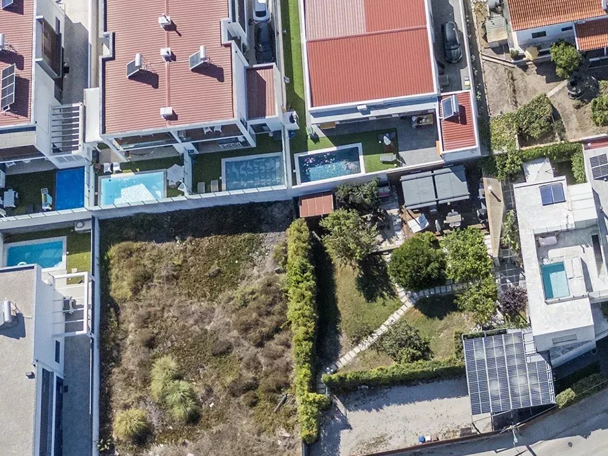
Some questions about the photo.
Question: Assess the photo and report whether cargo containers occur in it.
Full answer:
No, this view has no cargo container in it.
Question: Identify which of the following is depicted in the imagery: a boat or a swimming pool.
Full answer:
This aerial view contains a swimming pool.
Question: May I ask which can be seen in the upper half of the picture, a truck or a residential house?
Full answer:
The feature located in the upper half of the picture is a residential house.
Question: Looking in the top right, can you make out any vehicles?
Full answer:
Yes, there is a vehicle in the top right.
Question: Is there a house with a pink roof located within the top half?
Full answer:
Yes, a house with a pink roof shows up within the top half.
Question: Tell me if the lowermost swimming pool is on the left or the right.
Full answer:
You can find the lowermost swimming pool on the right side of the picture.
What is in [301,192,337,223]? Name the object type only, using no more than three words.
shed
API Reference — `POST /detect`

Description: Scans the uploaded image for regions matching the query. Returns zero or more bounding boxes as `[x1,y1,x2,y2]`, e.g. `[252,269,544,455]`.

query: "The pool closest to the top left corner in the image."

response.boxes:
[54,169,86,211]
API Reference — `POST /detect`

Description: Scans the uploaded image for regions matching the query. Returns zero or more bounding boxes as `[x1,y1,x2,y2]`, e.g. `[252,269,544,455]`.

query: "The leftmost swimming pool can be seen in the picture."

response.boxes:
[6,238,67,271]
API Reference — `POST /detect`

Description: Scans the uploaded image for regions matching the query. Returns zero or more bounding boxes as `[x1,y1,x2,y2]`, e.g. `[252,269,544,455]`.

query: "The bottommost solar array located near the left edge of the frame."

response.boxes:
[0,64,25,113]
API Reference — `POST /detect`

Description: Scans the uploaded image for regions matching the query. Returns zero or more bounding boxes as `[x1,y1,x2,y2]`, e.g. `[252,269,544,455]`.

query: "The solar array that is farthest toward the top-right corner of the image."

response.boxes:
[590,154,608,180]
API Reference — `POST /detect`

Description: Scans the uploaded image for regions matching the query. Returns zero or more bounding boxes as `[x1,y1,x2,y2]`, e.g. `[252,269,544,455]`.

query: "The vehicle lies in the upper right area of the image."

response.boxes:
[442,24,462,64]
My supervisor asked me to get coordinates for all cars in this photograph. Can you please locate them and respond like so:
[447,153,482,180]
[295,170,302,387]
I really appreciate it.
[442,24,462,64]
[254,0,271,24]
[255,24,276,62]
